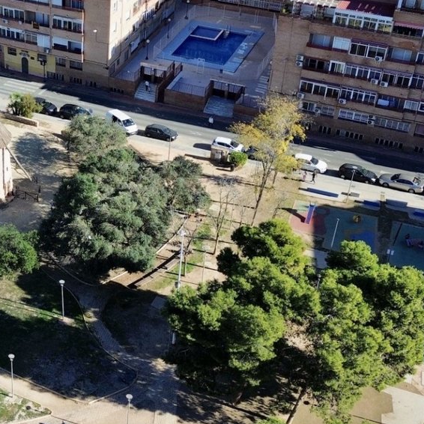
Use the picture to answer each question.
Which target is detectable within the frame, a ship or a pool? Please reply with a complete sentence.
I can see a pool in this picture.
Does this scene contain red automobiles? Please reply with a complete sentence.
No, I can see no red automobile in this picture.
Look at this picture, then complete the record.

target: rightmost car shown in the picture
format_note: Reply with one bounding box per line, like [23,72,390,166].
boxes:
[384,177,424,194]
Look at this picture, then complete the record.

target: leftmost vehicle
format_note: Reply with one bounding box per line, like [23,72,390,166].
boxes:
[35,100,59,115]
